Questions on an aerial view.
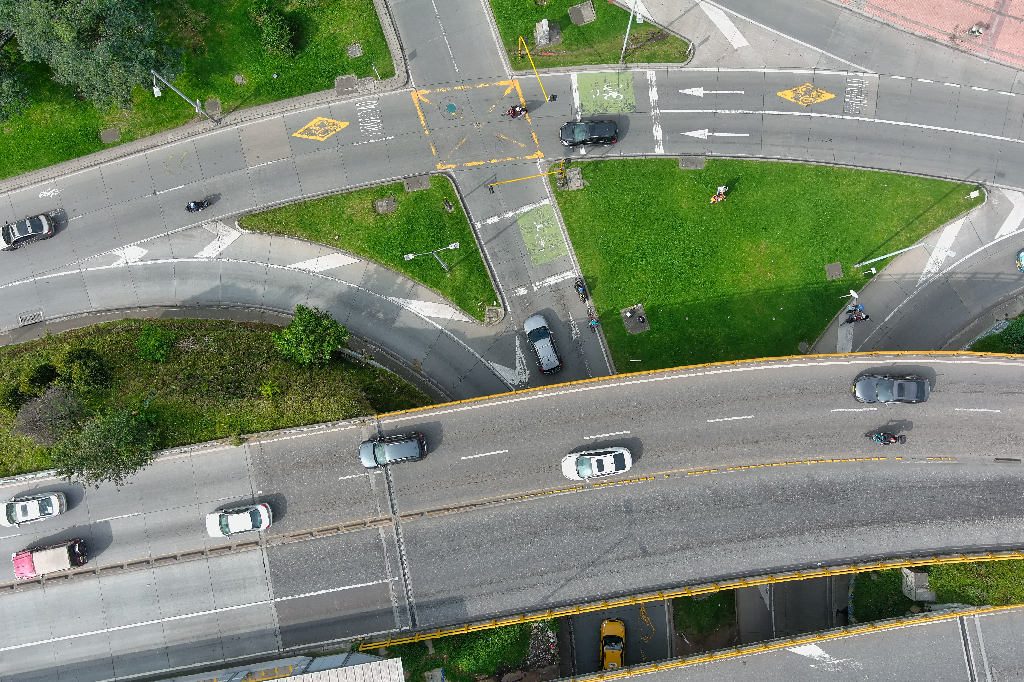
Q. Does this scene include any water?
No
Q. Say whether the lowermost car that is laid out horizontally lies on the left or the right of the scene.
left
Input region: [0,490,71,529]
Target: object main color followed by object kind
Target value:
white car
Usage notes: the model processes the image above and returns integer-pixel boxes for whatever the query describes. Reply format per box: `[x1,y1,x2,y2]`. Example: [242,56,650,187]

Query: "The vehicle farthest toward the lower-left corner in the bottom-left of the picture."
[17,539,91,581]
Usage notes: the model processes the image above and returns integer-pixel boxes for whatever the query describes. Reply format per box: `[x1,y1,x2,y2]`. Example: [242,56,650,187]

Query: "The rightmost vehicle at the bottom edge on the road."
[598,617,626,668]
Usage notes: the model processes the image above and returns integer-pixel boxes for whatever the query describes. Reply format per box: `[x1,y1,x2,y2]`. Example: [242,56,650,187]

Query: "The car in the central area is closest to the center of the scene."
[525,314,562,376]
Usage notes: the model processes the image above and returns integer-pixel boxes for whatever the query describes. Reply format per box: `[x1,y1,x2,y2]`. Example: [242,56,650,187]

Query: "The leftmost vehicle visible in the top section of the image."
[0,214,61,250]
